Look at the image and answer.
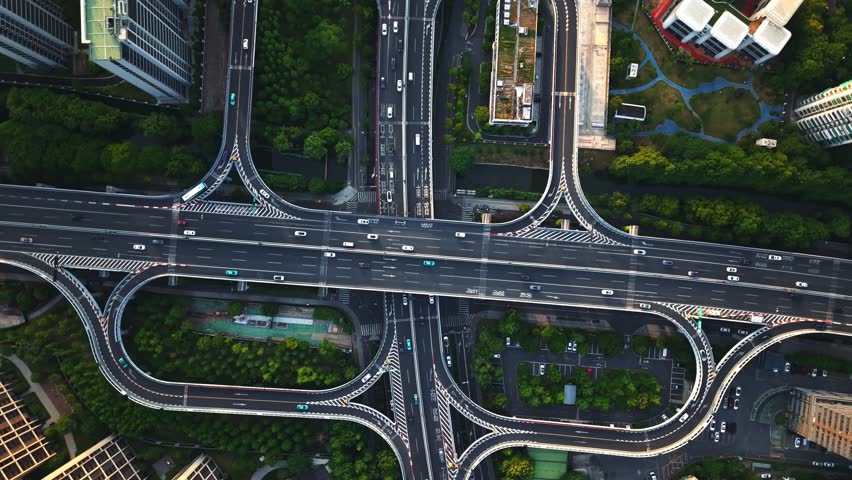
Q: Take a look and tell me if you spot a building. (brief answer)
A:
Yes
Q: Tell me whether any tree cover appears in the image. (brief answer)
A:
Yes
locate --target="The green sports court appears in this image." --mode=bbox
[527,448,569,480]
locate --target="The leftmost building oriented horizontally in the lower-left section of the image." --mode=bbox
[31,432,143,480]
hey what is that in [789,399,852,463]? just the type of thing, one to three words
building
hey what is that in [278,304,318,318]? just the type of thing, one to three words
shed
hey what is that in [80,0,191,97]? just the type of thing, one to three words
building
